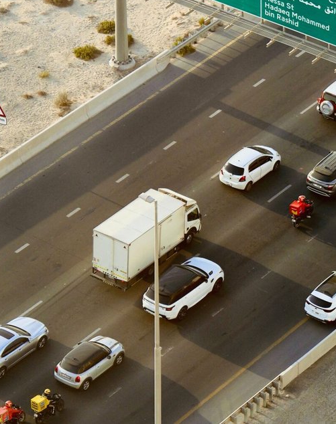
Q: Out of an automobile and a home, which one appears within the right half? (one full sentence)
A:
What appears within the right half is an automobile.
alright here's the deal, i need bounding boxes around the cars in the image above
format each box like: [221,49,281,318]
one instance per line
[0,315,50,377]
[52,334,126,390]
[311,79,336,123]
[219,144,282,191]
[303,268,336,324]
[305,149,336,199]
[139,258,225,324]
